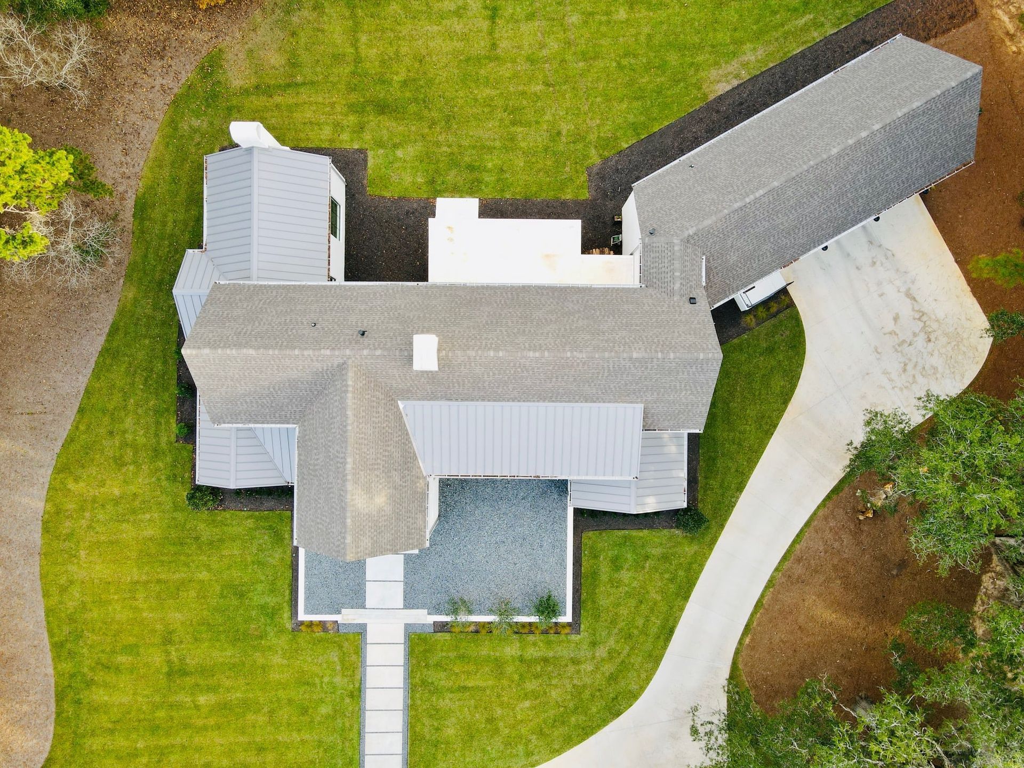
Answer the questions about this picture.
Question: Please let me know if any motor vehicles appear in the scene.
No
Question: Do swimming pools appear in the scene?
No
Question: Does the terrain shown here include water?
No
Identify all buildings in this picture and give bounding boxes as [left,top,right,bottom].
[173,34,982,561]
